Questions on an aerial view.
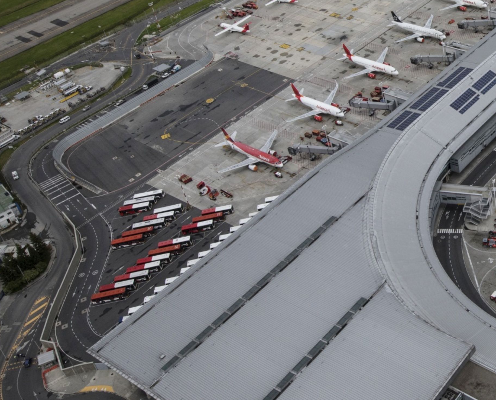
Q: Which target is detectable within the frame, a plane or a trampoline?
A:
plane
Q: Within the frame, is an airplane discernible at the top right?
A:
Yes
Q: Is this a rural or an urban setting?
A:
urban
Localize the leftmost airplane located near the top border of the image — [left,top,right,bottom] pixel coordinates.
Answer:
[215,16,252,36]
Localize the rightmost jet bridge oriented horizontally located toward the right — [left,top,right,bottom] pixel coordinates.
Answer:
[457,19,496,35]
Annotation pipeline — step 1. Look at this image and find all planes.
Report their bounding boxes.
[267,0,300,6]
[215,16,252,36]
[282,81,345,122]
[210,129,283,174]
[336,43,399,78]
[386,12,446,42]
[439,0,486,11]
